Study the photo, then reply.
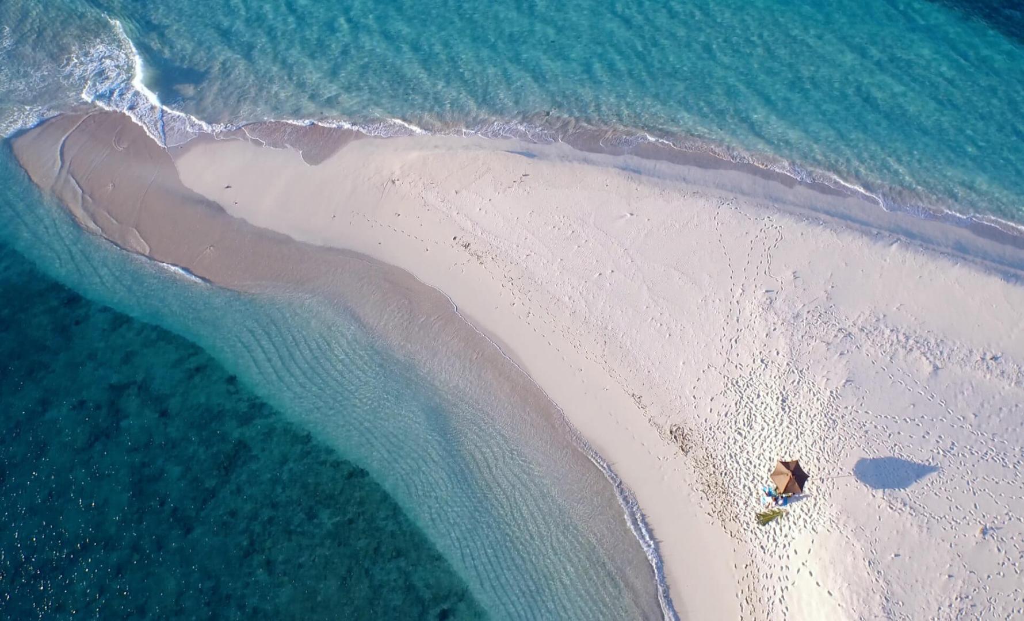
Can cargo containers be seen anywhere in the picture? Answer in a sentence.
No, no cargo container can be seen from above.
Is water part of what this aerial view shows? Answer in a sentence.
Yes, water shows up in the scene.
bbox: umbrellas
[771,460,810,495]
